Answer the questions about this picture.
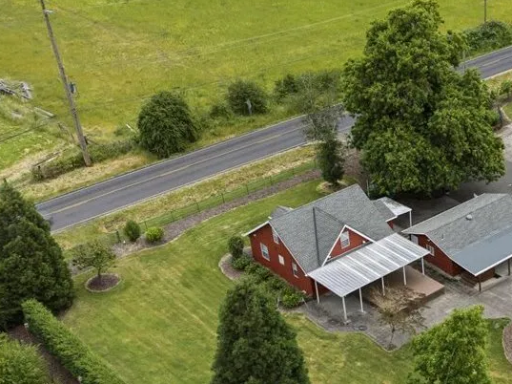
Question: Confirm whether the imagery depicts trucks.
No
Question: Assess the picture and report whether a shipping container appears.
No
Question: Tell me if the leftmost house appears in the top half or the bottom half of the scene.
bottom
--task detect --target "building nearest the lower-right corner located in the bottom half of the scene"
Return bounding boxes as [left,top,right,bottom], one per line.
[400,191,512,289]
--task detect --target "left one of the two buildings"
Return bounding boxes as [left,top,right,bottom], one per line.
[241,184,444,321]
